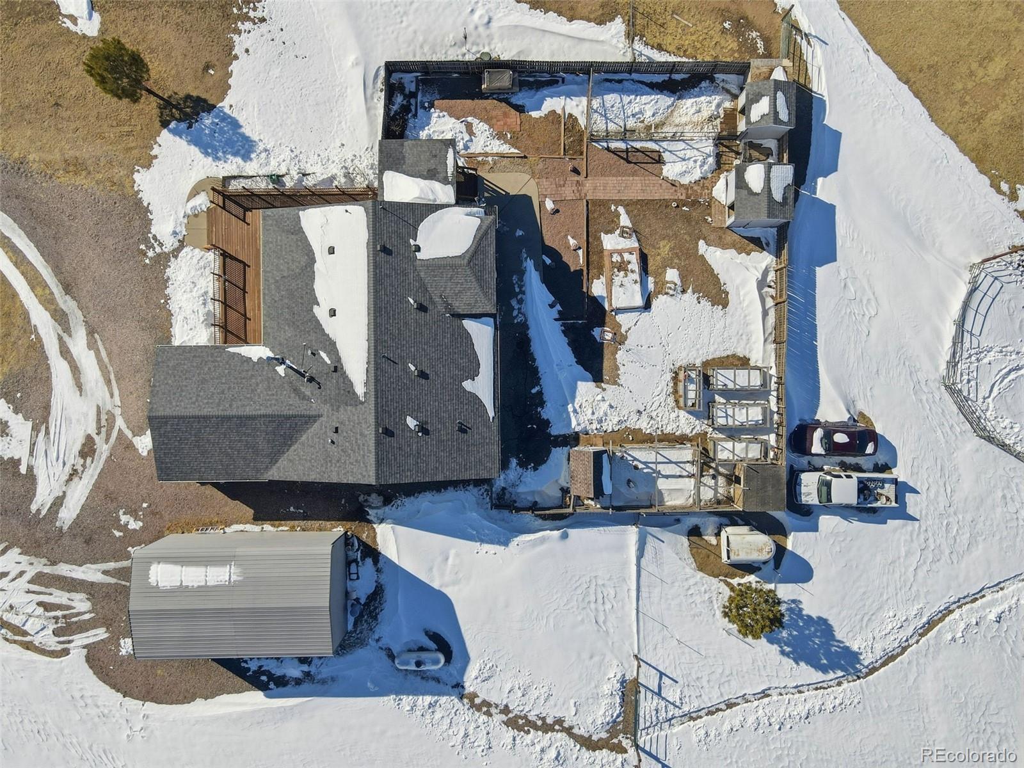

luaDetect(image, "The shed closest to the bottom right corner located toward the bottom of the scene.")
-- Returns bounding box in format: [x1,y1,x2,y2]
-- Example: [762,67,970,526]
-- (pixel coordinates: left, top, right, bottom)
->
[734,464,786,512]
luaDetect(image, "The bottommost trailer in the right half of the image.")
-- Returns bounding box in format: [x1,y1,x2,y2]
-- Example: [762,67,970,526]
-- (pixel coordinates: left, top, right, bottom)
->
[716,520,781,565]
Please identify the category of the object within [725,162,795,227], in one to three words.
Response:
shed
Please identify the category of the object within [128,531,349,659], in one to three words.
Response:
building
